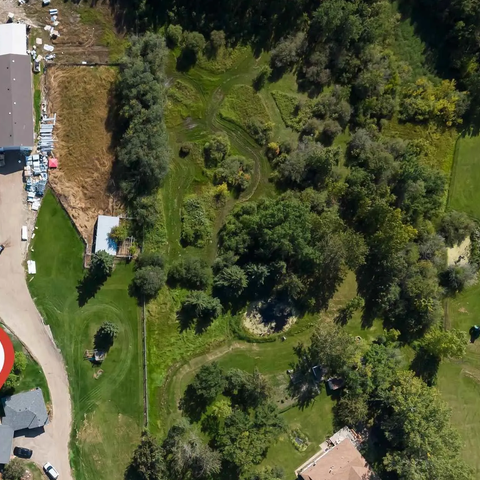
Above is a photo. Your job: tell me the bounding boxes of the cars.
[44,462,59,480]
[13,447,33,457]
